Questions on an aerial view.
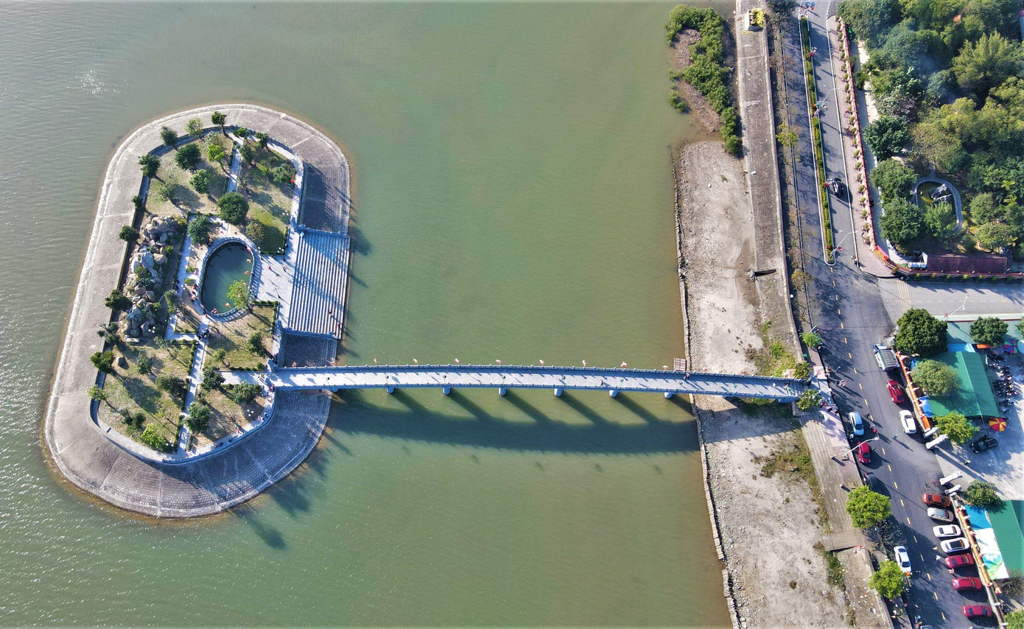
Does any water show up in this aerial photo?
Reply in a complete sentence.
Yes, there's water in this view.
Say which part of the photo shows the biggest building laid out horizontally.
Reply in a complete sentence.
The biggest building laid out horizontally sits in the right section of the image.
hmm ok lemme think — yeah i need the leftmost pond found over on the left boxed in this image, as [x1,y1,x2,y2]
[195,235,258,318]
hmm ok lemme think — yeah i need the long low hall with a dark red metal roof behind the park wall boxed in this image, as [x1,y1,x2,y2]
[914,254,1006,281]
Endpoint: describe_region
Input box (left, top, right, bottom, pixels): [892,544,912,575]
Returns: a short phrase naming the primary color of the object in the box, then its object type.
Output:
white car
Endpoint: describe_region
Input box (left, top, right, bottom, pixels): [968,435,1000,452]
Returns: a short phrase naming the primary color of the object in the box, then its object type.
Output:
black car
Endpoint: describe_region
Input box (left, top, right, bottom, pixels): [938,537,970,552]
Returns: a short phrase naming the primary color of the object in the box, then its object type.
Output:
white car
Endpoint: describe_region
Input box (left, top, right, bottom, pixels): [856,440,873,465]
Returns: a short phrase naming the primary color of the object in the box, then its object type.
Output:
red car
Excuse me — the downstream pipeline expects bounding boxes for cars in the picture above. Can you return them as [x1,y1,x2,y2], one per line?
[944,552,975,568]
[925,506,955,523]
[892,544,912,575]
[885,380,907,405]
[961,603,994,619]
[950,575,983,591]
[896,409,919,435]
[968,435,1000,452]
[856,440,873,465]
[859,468,879,491]
[846,411,864,436]
[910,623,924,629]
[931,523,962,537]
[829,178,845,197]
[921,494,951,508]
[938,537,970,552]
